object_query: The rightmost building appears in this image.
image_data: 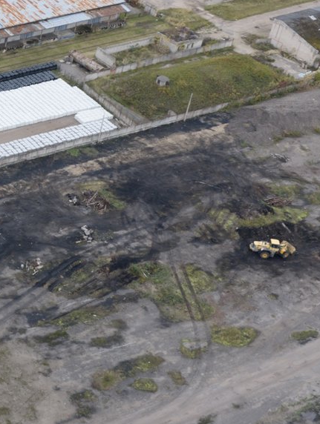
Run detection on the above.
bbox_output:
[260,9,320,70]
